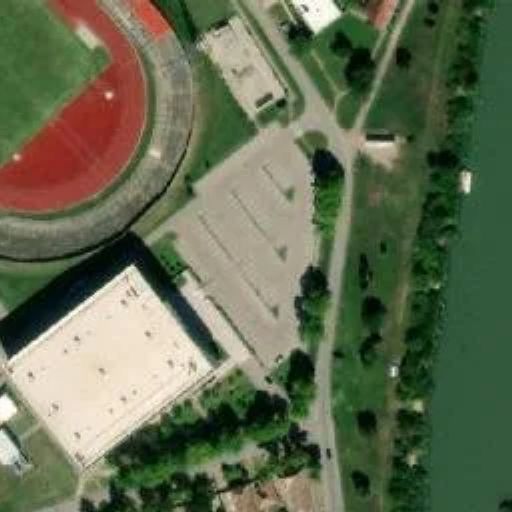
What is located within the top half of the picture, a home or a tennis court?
home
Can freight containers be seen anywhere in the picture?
No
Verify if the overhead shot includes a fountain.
No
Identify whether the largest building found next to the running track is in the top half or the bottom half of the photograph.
bottom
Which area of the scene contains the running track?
top left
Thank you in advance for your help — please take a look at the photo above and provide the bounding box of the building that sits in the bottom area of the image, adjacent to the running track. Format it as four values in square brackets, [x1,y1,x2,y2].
[8,266,214,467]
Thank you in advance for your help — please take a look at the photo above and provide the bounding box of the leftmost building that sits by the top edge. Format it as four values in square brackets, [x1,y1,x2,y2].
[200,18,286,119]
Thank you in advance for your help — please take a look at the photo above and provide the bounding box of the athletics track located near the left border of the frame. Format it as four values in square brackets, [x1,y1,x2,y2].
[0,0,149,214]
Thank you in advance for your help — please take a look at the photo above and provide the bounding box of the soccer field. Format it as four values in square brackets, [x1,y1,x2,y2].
[0,0,111,168]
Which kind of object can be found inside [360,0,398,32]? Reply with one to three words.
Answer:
house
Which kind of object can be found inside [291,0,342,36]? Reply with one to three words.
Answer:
building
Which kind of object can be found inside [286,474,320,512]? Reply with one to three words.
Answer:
house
